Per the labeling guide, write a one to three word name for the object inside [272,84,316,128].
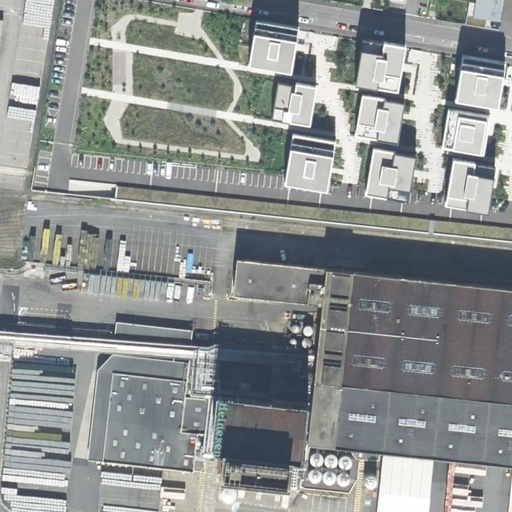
building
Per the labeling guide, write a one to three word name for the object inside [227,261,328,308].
shed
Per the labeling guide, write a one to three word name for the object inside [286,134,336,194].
building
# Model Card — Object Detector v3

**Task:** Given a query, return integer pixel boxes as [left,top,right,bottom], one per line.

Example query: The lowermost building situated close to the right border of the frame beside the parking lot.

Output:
[336,275,512,468]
